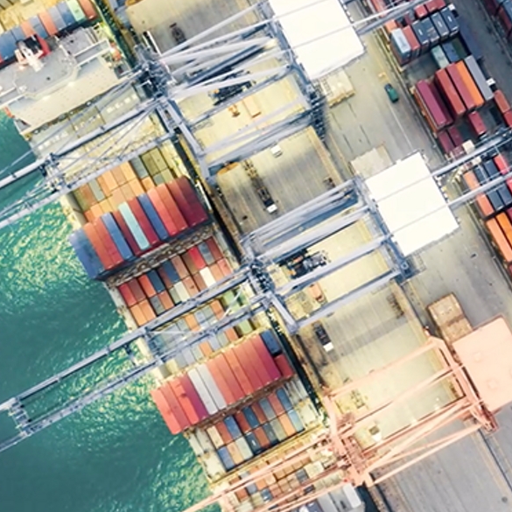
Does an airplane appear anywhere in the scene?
No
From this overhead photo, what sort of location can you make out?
port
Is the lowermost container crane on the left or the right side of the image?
right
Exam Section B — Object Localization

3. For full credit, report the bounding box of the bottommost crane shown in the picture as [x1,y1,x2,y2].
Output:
[164,309,512,512]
